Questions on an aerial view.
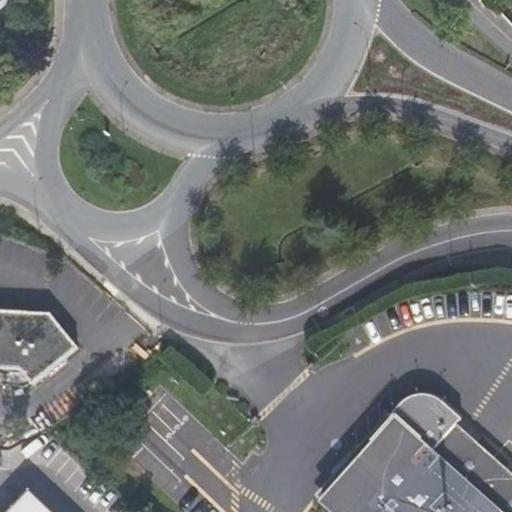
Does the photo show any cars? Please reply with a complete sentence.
Yes, the picture does show a car.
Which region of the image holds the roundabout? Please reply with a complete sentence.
The roundabout sits in the top section of the image.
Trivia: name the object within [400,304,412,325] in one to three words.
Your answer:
vehicle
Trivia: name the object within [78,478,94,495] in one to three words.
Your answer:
car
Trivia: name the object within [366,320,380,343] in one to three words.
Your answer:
car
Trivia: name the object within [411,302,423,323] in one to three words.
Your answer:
vehicle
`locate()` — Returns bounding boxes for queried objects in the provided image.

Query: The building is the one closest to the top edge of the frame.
[0,310,78,385]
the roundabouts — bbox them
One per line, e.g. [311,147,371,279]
[70,0,374,152]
